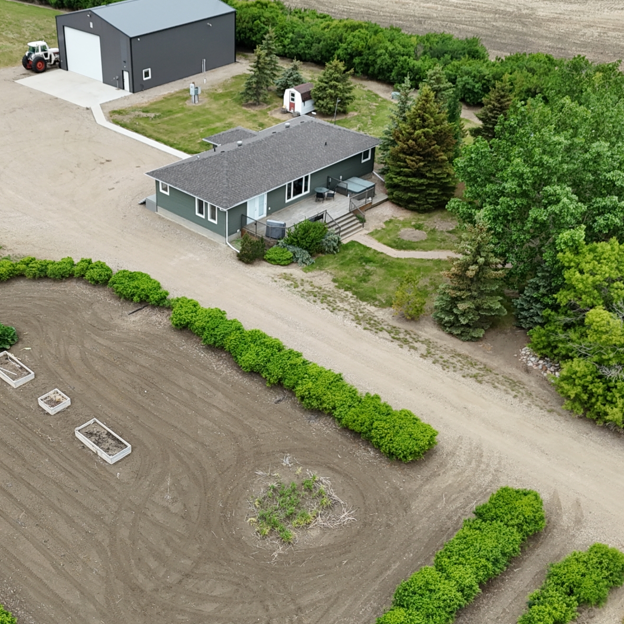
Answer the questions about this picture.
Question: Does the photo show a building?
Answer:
Yes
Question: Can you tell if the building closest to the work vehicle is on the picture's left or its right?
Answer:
left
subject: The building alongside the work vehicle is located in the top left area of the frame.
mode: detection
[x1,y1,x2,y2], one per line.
[54,0,237,93]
